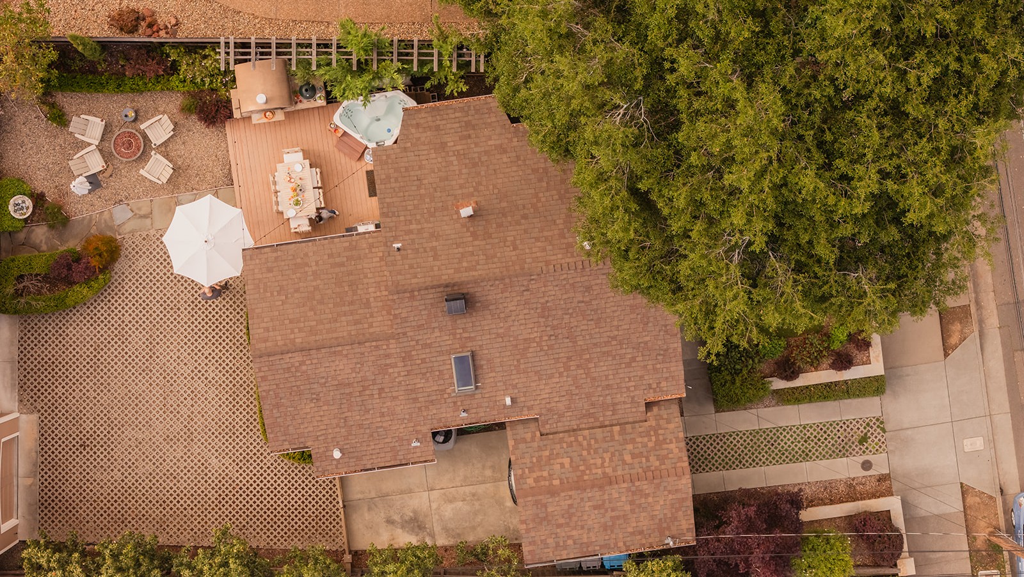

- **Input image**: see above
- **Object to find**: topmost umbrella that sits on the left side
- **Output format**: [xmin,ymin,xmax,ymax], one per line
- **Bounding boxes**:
[65,171,104,199]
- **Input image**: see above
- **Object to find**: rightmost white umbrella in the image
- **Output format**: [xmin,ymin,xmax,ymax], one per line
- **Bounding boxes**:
[163,194,253,286]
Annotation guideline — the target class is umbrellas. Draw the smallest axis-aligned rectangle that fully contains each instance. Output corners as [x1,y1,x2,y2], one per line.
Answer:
[163,194,253,286]
[65,171,104,199]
